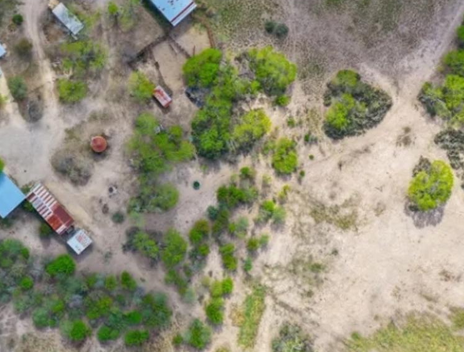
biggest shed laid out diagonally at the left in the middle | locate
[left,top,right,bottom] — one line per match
[26,184,75,234]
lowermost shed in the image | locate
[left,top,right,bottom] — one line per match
[67,229,92,255]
